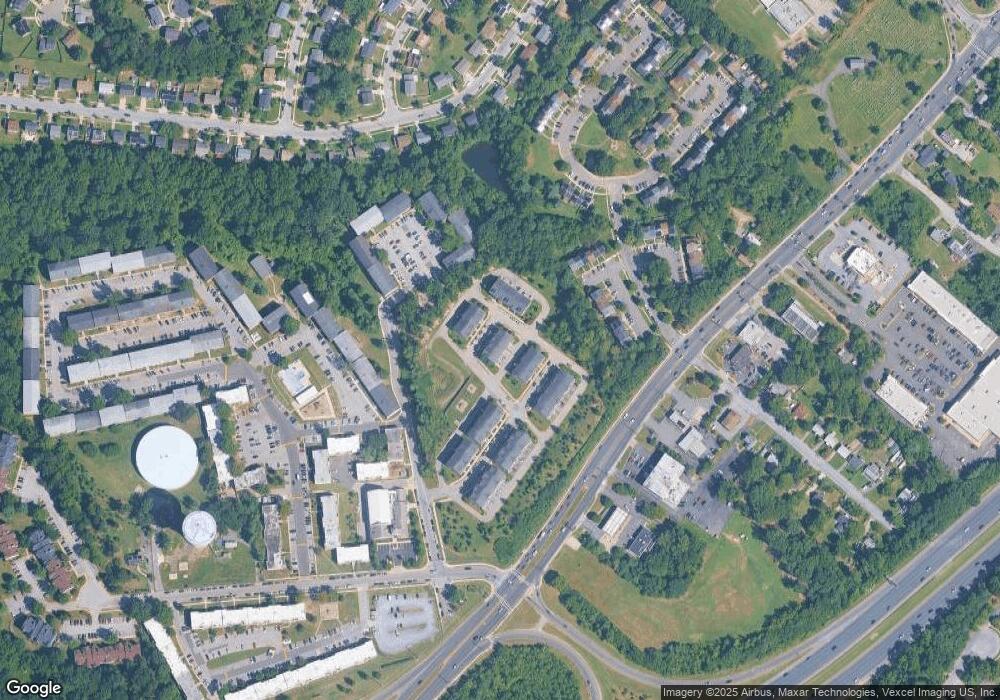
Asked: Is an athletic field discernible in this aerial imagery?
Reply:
No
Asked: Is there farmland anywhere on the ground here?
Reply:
No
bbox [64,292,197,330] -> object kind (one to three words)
building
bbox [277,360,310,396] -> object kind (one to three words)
building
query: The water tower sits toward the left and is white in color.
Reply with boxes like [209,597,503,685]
[179,515,212,547]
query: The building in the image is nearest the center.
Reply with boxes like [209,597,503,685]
[479,328,517,367]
